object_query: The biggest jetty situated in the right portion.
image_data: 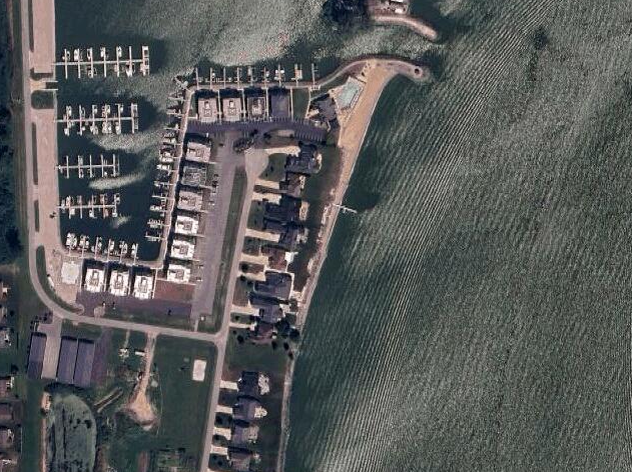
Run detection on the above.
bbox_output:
[373,16,437,37]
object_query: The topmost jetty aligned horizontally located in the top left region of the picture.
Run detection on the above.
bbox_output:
[57,47,150,78]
